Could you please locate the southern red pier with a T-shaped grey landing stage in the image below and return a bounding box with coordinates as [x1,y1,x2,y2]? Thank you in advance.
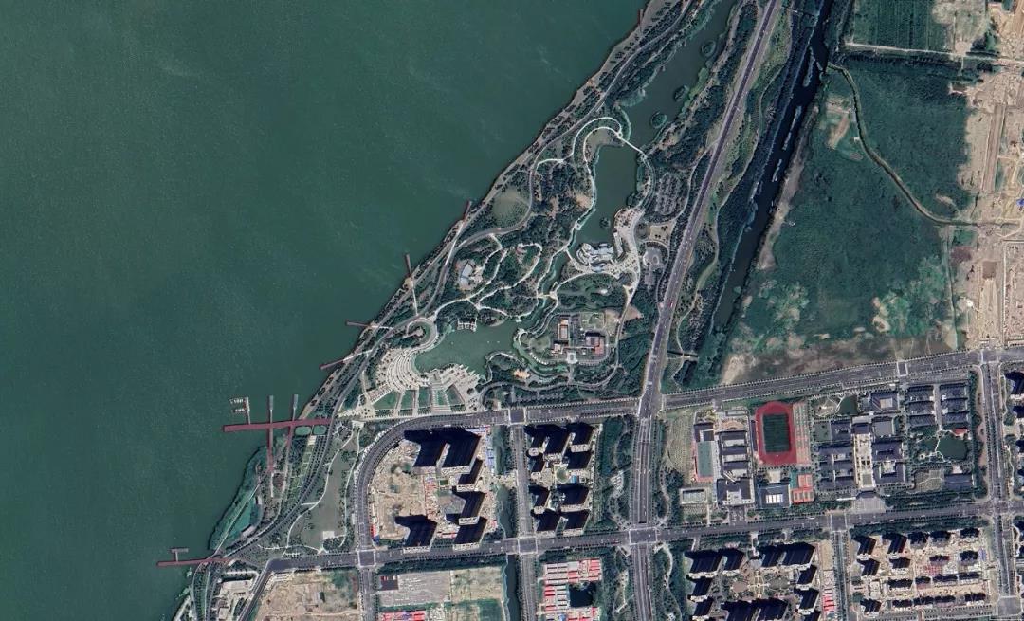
[158,548,232,566]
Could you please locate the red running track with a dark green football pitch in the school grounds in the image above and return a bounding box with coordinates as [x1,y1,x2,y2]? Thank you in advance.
[756,401,796,466]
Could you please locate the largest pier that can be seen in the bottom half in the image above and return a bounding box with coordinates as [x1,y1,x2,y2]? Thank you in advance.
[223,394,334,473]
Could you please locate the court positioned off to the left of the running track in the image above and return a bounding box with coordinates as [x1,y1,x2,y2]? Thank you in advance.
[697,442,713,478]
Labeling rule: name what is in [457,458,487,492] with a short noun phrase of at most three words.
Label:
building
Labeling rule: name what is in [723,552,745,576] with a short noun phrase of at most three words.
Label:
building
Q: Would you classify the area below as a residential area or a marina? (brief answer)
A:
marina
